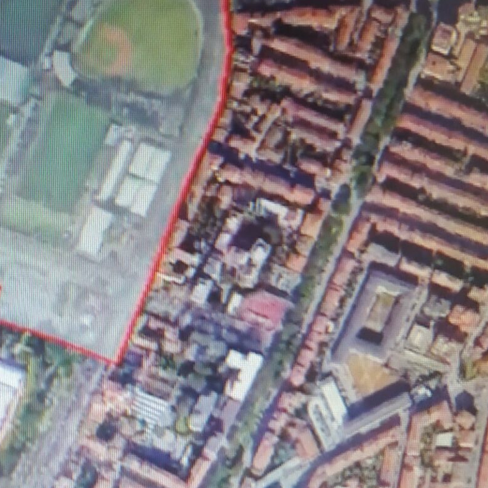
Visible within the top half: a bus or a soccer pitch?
soccer pitch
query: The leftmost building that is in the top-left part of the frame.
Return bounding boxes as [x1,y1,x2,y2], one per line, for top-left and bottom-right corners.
[51,50,77,85]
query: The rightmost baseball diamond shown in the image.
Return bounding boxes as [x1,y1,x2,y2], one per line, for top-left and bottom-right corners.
[76,0,201,93]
